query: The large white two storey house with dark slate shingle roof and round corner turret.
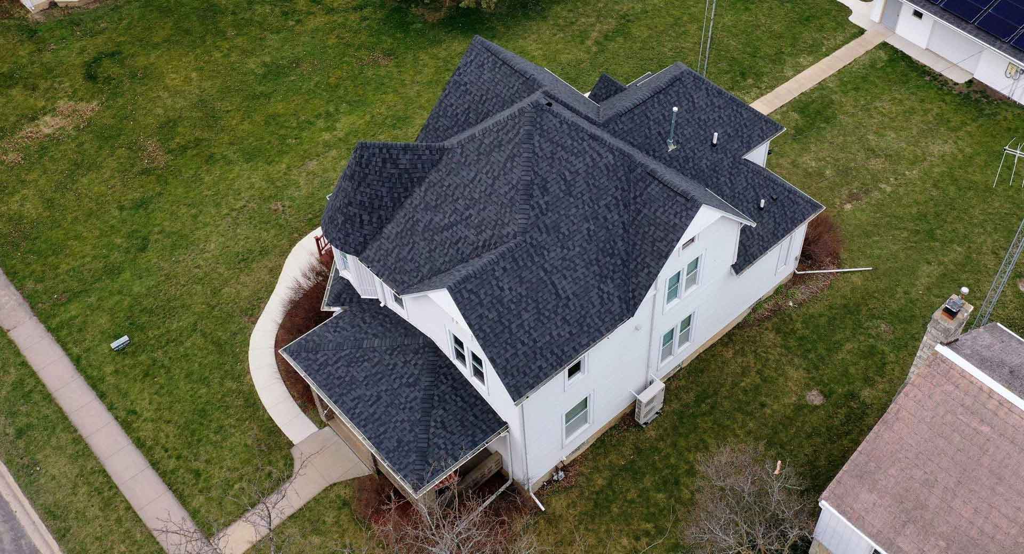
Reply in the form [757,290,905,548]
[276,34,872,541]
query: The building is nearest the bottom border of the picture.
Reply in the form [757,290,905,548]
[813,290,1024,554]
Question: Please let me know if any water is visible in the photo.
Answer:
No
